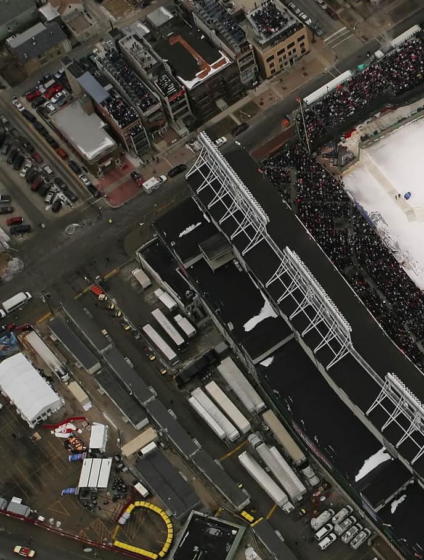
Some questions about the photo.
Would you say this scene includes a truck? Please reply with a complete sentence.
Yes, I can see a truck in this picture.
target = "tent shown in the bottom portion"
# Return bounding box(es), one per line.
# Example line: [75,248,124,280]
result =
[0,351,67,428]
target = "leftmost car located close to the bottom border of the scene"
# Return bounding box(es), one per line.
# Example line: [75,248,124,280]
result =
[13,546,36,559]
